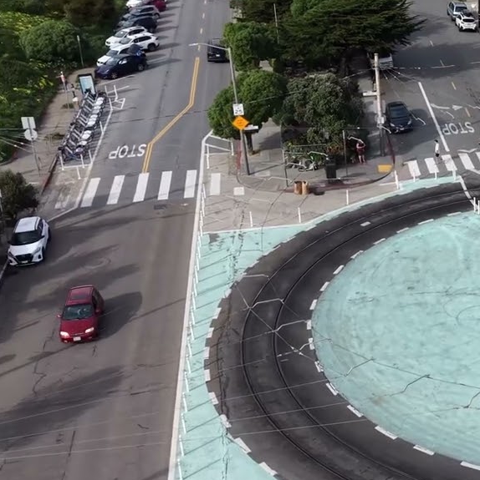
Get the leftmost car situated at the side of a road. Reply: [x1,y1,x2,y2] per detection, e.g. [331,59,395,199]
[6,211,61,259]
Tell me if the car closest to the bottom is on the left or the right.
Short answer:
left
